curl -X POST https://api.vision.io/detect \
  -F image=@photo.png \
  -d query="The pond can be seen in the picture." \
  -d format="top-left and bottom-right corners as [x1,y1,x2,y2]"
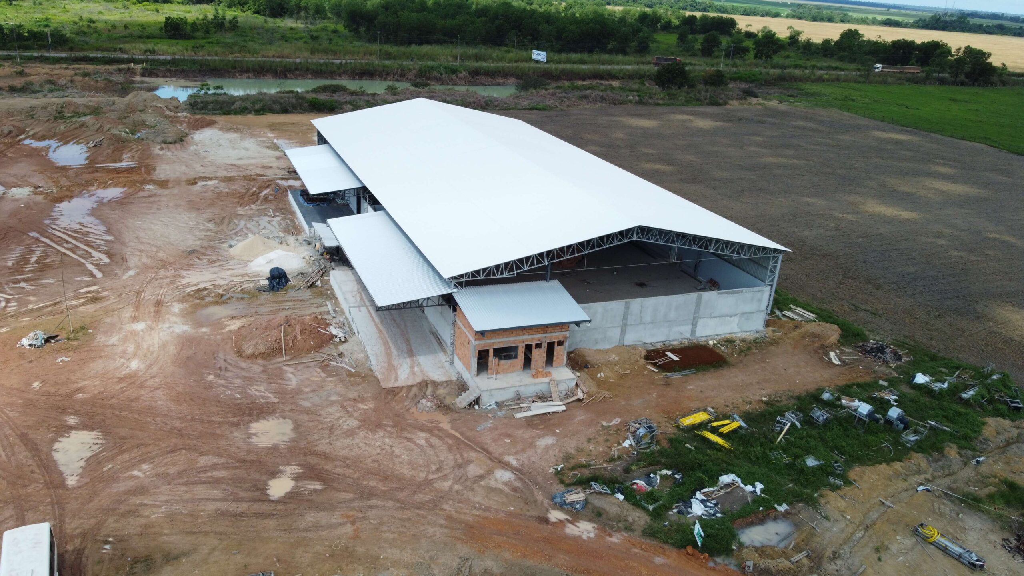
[154,80,524,100]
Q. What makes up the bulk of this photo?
paved ground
